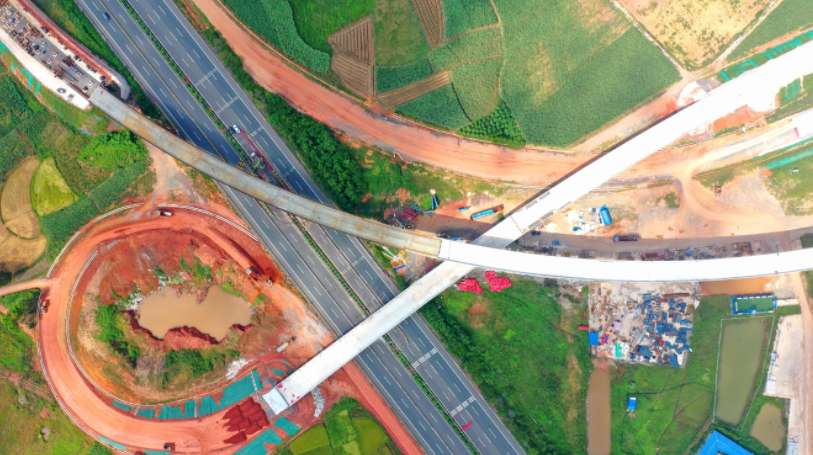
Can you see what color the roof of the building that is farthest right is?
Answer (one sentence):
The color of the roof on the building that is farthest right is blue.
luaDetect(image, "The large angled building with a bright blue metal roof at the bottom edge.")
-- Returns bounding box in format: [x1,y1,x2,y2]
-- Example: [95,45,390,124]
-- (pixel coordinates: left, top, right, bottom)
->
[690,426,759,455]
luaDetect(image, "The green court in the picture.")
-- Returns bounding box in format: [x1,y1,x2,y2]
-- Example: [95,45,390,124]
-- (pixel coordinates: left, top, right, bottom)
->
[731,293,777,316]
